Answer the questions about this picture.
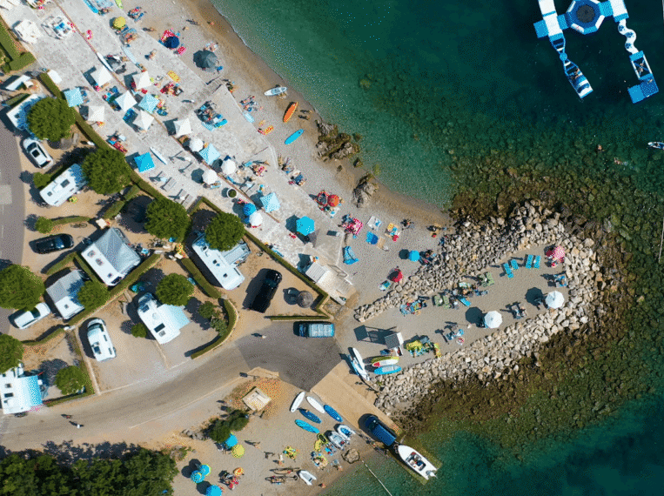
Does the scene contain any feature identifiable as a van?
Yes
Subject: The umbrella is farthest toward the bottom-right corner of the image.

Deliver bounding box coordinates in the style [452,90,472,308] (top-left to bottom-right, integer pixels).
[545,290,564,309]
